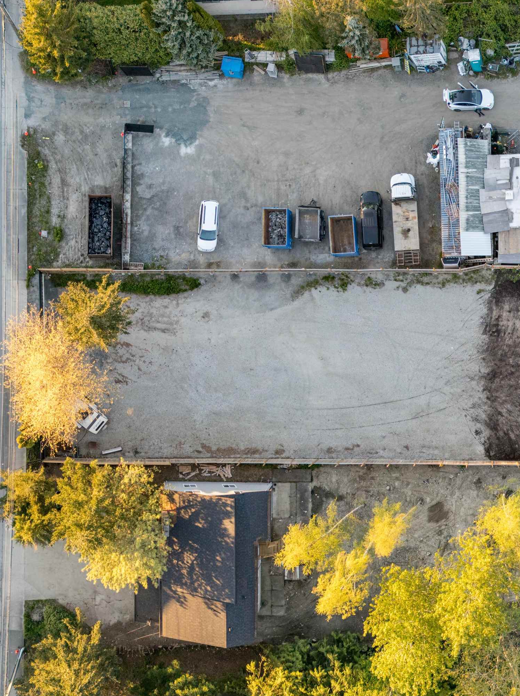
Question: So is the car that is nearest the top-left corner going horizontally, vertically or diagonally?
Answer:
vertically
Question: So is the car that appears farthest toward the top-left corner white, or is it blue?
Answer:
white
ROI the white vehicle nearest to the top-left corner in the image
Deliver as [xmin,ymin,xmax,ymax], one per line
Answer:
[196,201,222,252]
